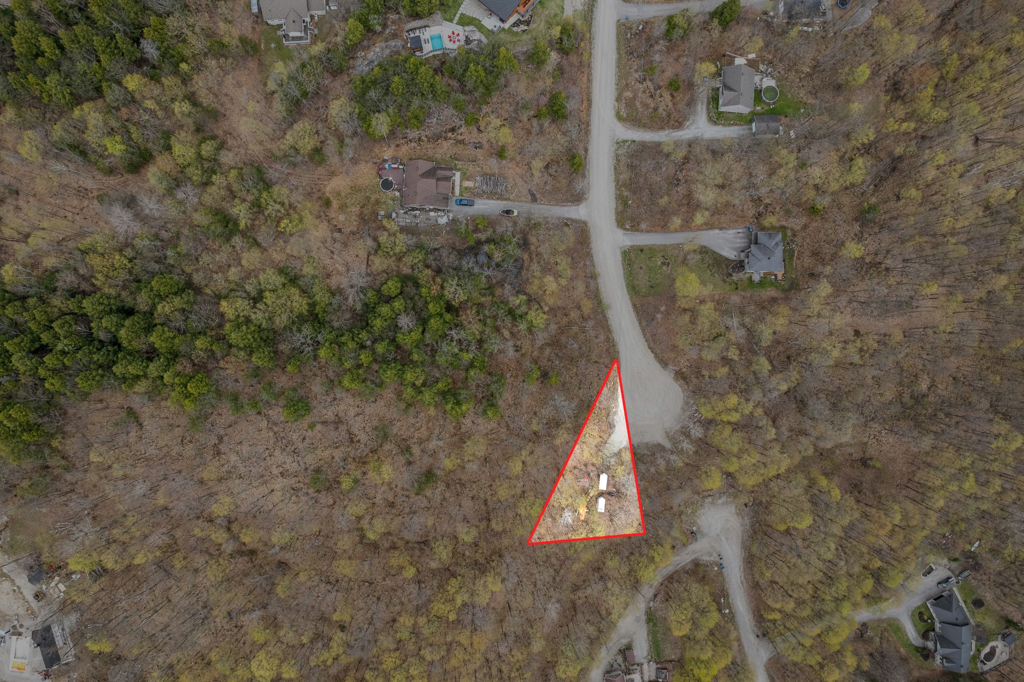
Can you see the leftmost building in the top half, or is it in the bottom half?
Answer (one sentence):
The leftmost building sits in the bottom half of the picture.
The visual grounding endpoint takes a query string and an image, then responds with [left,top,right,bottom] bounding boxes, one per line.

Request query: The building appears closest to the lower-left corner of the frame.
[29,624,66,667]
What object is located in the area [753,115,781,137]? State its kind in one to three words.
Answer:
building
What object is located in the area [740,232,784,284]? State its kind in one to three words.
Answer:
house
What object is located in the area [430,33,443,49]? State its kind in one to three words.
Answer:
swimming pool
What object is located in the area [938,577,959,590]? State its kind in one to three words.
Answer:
vehicle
